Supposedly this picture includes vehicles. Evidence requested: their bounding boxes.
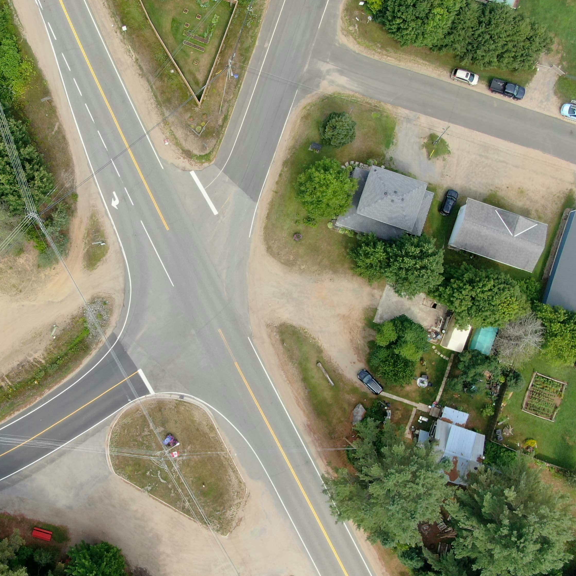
[560,101,576,119]
[489,77,529,99]
[450,65,481,85]
[438,187,459,218]
[357,366,386,398]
